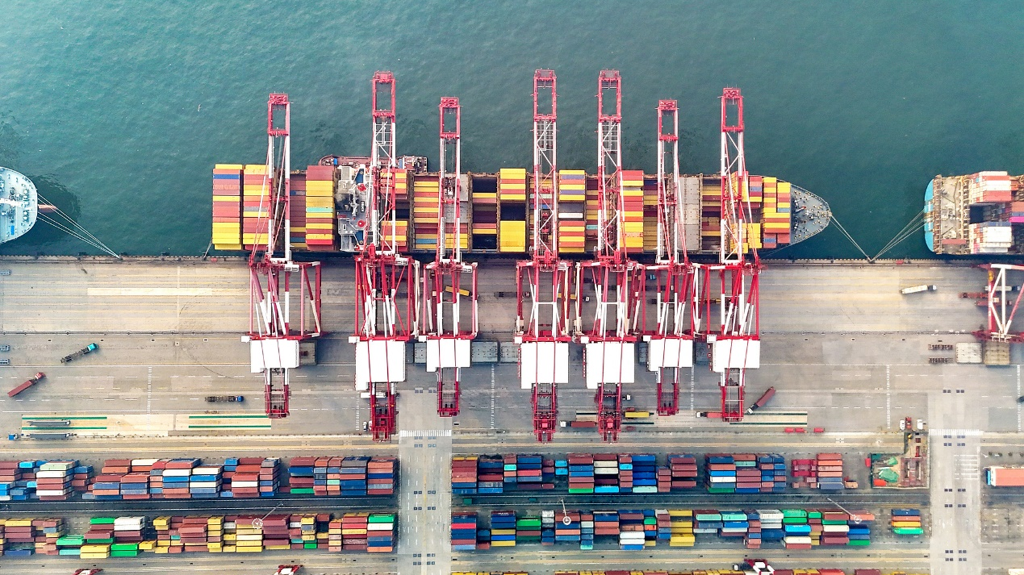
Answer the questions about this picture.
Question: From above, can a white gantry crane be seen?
Yes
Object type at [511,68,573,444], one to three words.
container crane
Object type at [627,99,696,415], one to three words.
container crane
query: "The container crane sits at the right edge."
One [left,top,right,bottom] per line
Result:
[971,262,1024,337]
